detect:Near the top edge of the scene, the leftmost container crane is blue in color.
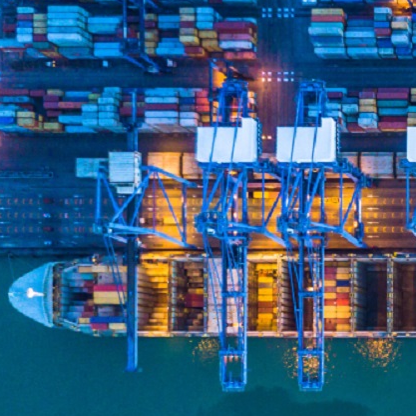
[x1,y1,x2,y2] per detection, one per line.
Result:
[118,0,164,70]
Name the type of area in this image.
port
